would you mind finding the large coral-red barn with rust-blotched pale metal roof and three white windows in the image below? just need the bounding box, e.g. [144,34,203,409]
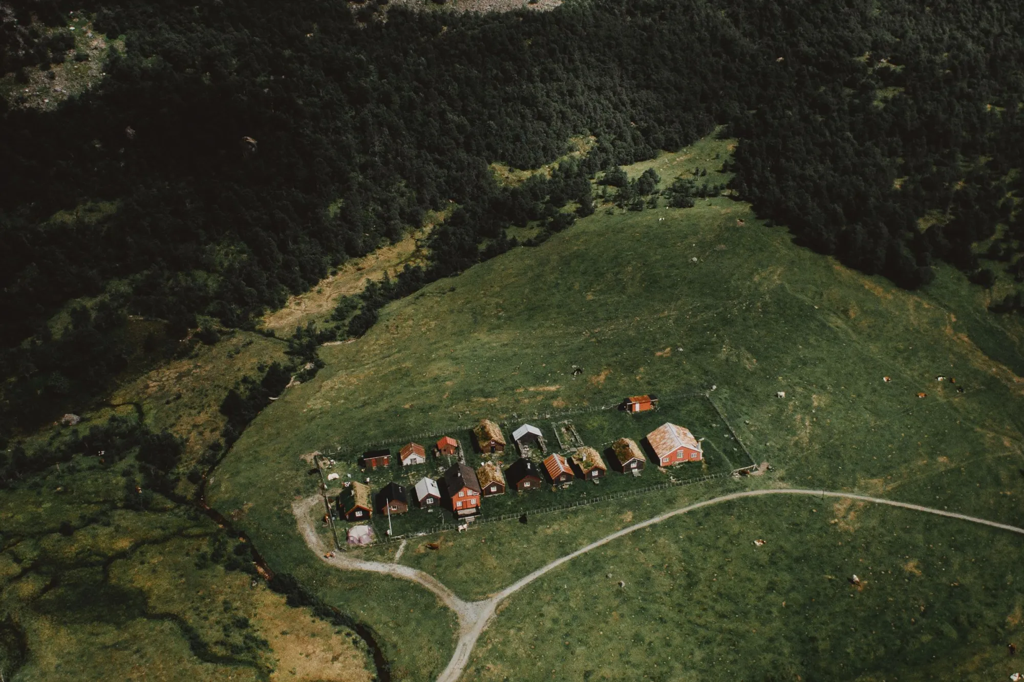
[647,422,707,467]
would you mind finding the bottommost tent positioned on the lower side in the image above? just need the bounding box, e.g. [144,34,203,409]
[347,526,375,546]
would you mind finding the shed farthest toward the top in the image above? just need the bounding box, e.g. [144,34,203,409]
[623,394,659,413]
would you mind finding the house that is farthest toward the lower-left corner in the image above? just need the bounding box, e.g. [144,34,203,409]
[339,480,373,521]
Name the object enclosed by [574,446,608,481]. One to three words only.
house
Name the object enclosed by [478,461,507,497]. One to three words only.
house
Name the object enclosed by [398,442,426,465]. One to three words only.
shed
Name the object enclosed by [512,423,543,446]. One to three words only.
barn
